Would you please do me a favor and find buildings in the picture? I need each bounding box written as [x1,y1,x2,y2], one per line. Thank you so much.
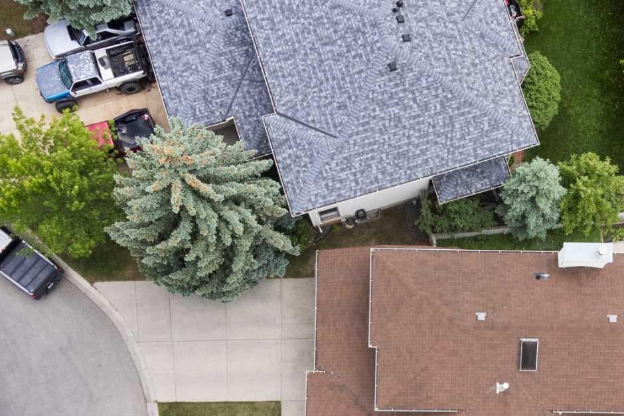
[303,242,624,416]
[134,0,540,243]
